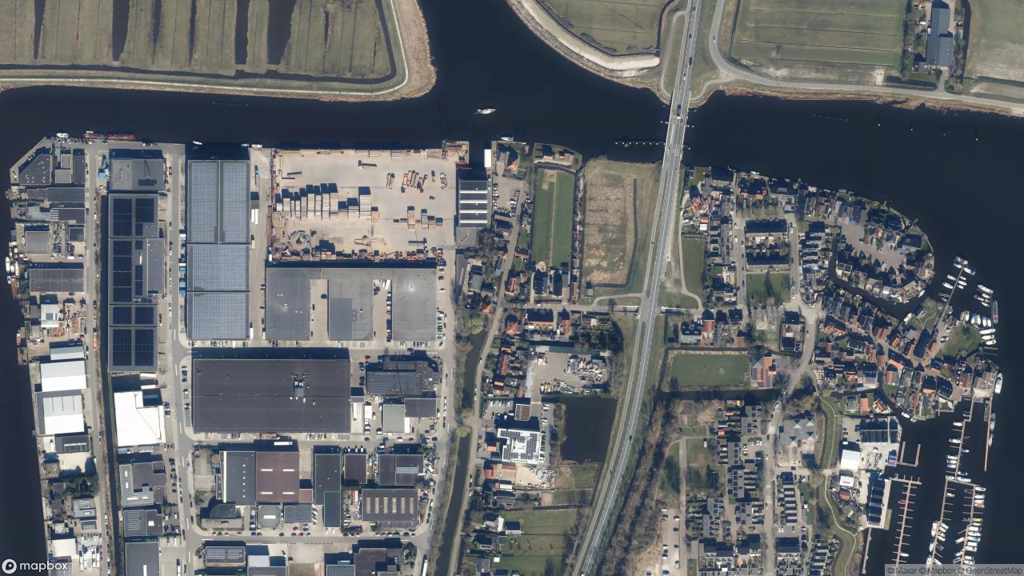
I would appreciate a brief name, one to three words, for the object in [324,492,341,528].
building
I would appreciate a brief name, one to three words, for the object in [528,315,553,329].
house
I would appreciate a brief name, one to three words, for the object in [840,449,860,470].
shed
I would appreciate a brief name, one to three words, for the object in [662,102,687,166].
bridge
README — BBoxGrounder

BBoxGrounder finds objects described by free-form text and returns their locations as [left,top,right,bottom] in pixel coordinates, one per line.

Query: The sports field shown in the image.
[670,354,750,387]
